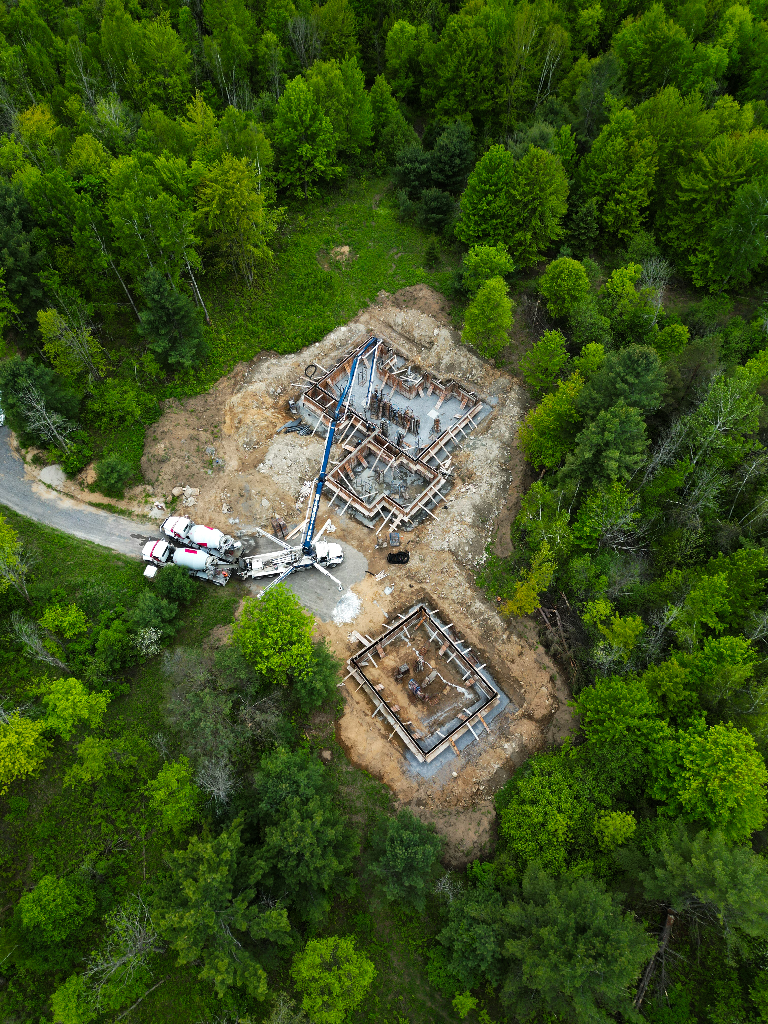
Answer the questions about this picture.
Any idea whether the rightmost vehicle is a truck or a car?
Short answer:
truck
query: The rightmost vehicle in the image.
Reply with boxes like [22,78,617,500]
[238,336,383,596]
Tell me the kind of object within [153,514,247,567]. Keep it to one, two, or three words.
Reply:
truck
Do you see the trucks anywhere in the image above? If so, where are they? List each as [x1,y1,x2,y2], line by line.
[238,336,383,596]
[153,514,247,567]
[138,539,242,588]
